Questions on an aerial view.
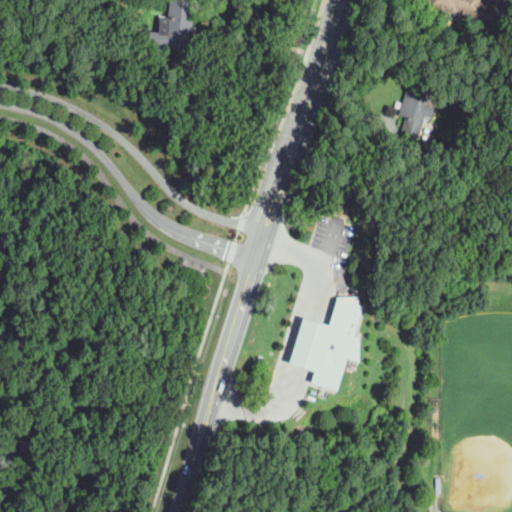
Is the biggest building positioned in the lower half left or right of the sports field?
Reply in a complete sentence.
Looking at the picture, you'll find the biggest building positioned in the lower half to the left of the sports field.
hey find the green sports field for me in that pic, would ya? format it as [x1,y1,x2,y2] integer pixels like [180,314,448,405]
[442,312,512,512]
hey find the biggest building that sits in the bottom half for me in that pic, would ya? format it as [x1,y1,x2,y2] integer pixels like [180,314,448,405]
[289,296,363,394]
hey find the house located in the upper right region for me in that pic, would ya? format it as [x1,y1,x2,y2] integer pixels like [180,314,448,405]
[400,93,434,134]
